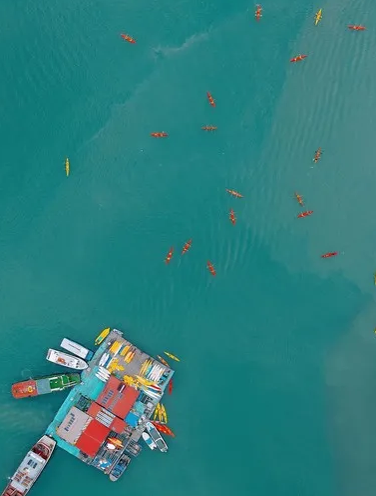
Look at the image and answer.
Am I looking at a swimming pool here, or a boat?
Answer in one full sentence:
Of the two, only a boat appears.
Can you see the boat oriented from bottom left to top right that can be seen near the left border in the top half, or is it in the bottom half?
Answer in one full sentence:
The bottom half of the photo is where the boat oriented from bottom left to top right that can be seen near the left border is.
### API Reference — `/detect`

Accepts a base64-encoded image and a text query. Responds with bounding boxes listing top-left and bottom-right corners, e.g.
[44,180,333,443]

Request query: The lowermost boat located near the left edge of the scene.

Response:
[0,436,53,496]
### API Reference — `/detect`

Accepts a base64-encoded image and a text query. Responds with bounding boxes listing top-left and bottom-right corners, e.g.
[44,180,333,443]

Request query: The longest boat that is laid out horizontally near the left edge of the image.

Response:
[11,373,81,400]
